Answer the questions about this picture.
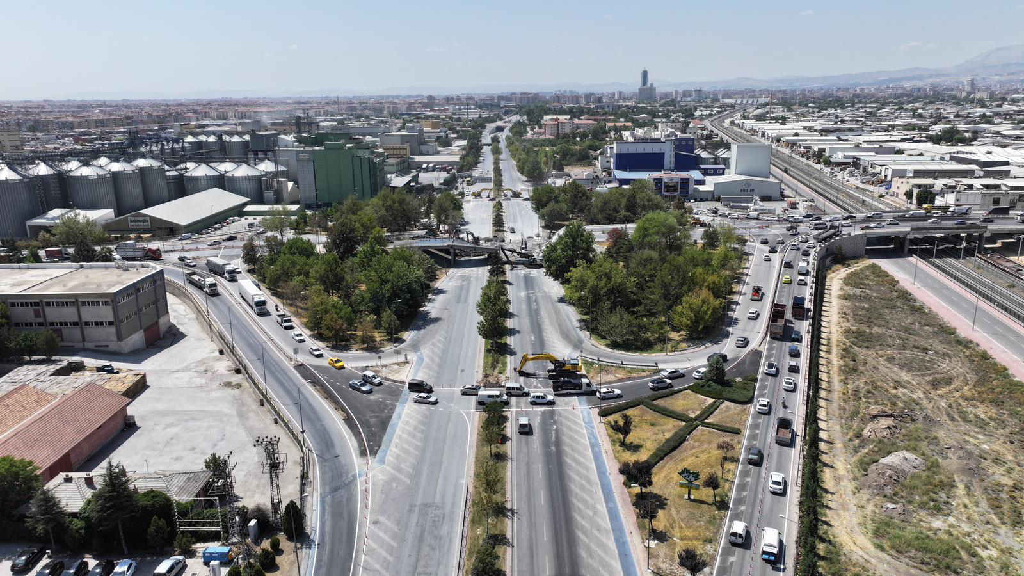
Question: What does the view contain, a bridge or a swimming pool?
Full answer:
The one in the frame is a bridge.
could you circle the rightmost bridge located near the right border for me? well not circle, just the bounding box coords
[846,211,1024,256]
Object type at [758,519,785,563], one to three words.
vehicle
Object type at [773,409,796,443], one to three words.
truck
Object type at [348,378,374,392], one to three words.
car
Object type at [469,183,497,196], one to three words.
vehicle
